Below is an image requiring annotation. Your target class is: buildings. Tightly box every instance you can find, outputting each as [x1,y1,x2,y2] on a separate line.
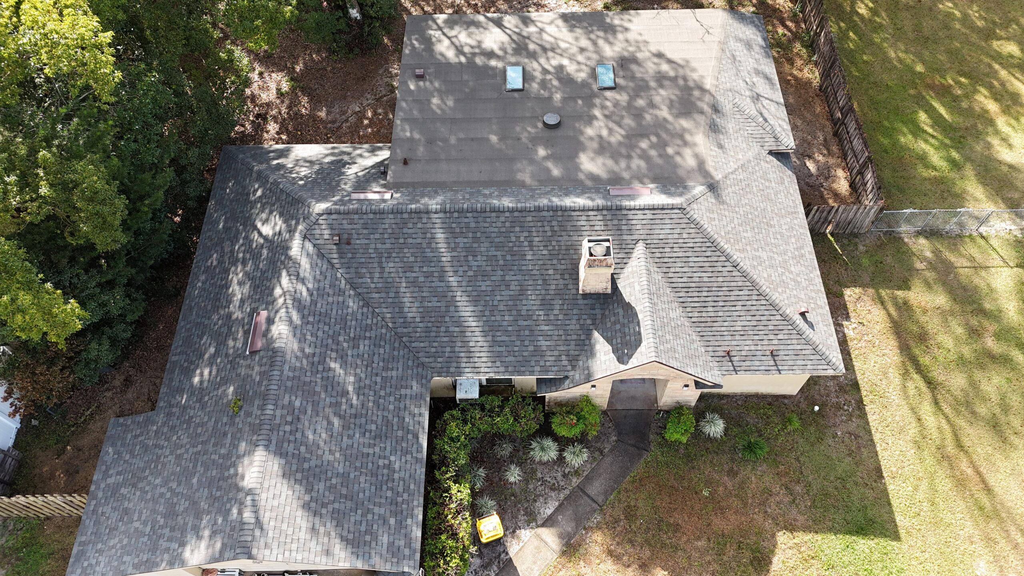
[67,8,845,576]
